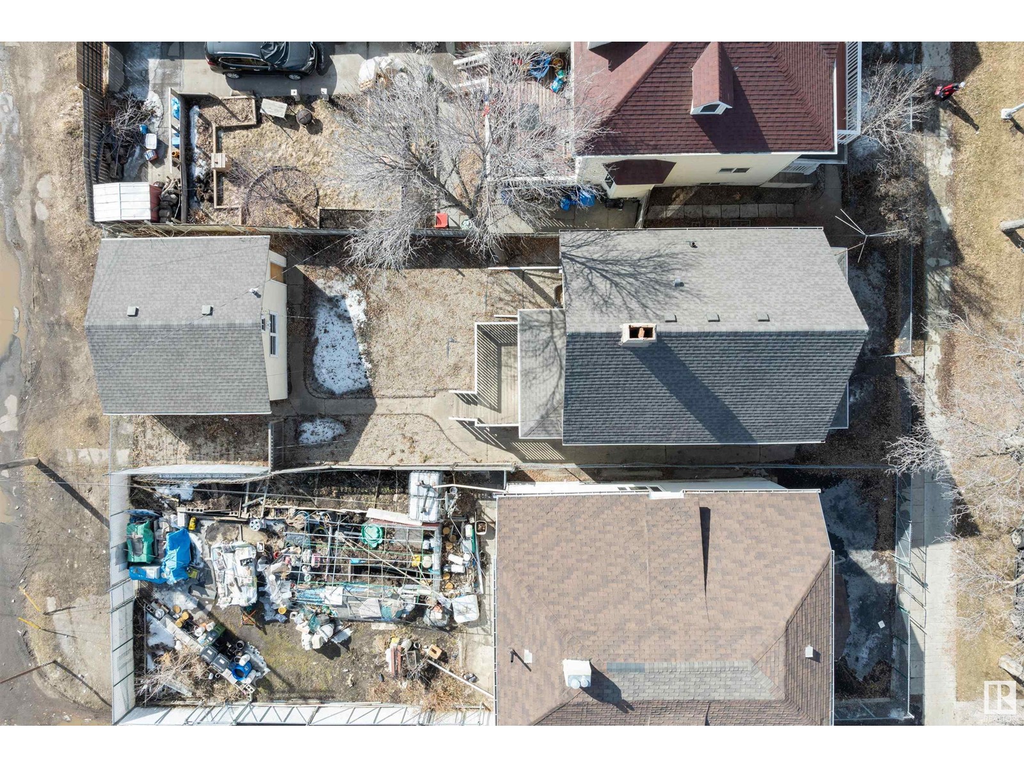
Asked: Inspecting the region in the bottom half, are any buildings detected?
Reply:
Yes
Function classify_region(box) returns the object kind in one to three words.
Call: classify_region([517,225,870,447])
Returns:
house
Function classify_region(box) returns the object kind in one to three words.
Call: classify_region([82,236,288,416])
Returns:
building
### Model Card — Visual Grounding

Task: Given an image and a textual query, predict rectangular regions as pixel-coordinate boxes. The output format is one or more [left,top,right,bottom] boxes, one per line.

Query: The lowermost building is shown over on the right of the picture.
[491,481,850,768]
